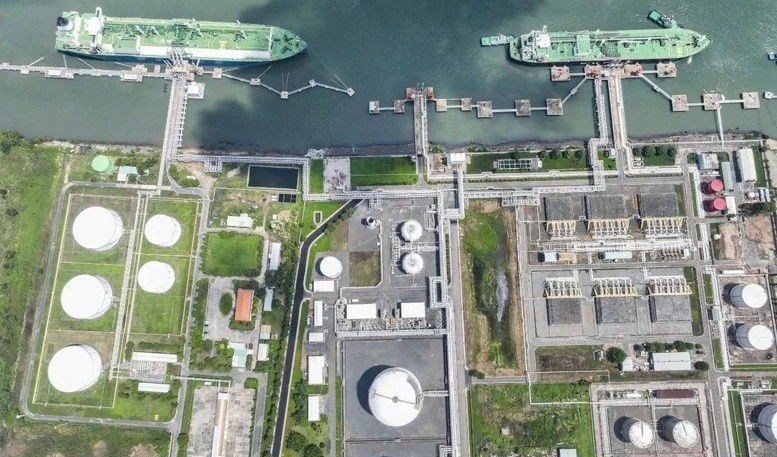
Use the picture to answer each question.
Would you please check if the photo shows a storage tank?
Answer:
Yes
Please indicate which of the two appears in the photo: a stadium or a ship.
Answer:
ship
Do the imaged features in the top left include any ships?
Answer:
Yes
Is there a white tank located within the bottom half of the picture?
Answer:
Yes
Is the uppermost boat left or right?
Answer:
right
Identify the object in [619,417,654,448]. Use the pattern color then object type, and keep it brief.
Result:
white storage tank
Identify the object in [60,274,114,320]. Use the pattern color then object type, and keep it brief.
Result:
white storage tank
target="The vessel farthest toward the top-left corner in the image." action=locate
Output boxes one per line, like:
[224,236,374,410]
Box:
[55,9,307,68]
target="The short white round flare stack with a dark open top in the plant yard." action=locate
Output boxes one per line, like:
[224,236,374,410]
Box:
[366,218,383,245]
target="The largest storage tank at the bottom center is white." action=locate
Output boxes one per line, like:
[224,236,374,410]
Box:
[368,365,423,426]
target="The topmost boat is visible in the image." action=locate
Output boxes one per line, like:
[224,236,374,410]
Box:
[644,8,676,28]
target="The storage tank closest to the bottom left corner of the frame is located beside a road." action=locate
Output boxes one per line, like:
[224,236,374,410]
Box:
[46,343,103,393]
